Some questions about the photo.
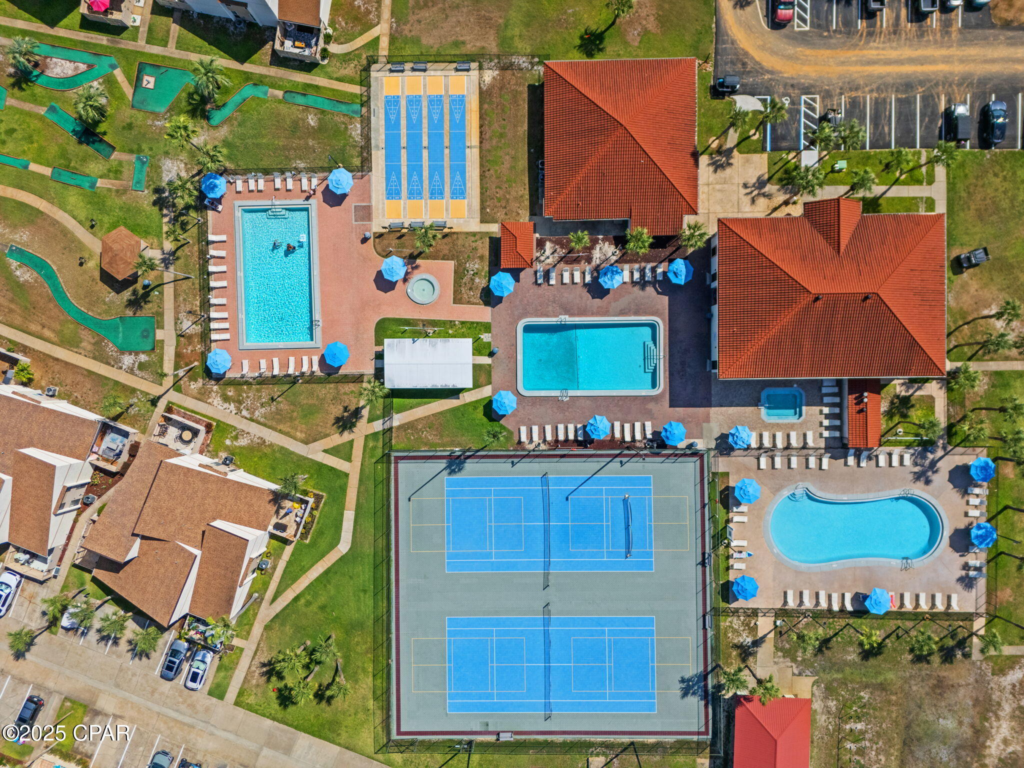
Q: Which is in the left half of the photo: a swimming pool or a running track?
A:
swimming pool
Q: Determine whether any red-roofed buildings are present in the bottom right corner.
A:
Yes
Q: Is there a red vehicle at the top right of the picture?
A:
Yes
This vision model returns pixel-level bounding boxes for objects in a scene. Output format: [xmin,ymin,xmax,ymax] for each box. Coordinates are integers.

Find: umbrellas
[208,350,233,375]
[329,169,355,196]
[203,174,229,200]
[663,420,688,446]
[487,270,513,297]
[668,258,694,284]
[726,423,753,450]
[864,589,889,613]
[966,521,995,547]
[326,343,351,368]
[966,457,994,483]
[732,479,759,505]
[585,416,610,441]
[492,389,517,414]
[730,574,757,600]
[381,255,406,280]
[598,266,623,291]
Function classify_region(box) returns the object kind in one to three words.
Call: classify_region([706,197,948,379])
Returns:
building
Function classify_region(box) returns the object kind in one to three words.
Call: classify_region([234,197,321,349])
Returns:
swimming pool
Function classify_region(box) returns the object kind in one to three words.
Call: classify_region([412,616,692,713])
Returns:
tennis court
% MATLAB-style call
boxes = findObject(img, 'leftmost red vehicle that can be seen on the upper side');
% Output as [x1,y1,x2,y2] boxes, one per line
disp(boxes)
[773,0,793,24]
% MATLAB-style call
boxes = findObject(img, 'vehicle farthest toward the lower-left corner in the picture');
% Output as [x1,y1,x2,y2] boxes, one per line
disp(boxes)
[11,697,41,741]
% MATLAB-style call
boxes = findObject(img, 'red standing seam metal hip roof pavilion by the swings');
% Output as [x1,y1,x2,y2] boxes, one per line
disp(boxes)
[730,690,812,768]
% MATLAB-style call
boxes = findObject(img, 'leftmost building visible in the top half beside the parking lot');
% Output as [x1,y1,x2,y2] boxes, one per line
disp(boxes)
[543,56,700,239]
